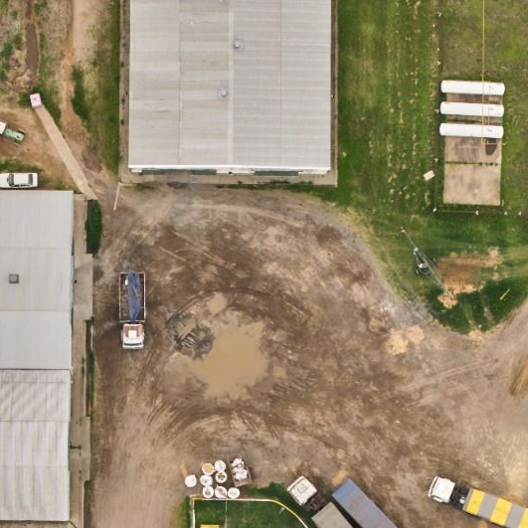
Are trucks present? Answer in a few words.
Yes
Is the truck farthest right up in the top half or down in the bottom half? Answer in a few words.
bottom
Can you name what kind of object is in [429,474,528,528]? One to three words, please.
truck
